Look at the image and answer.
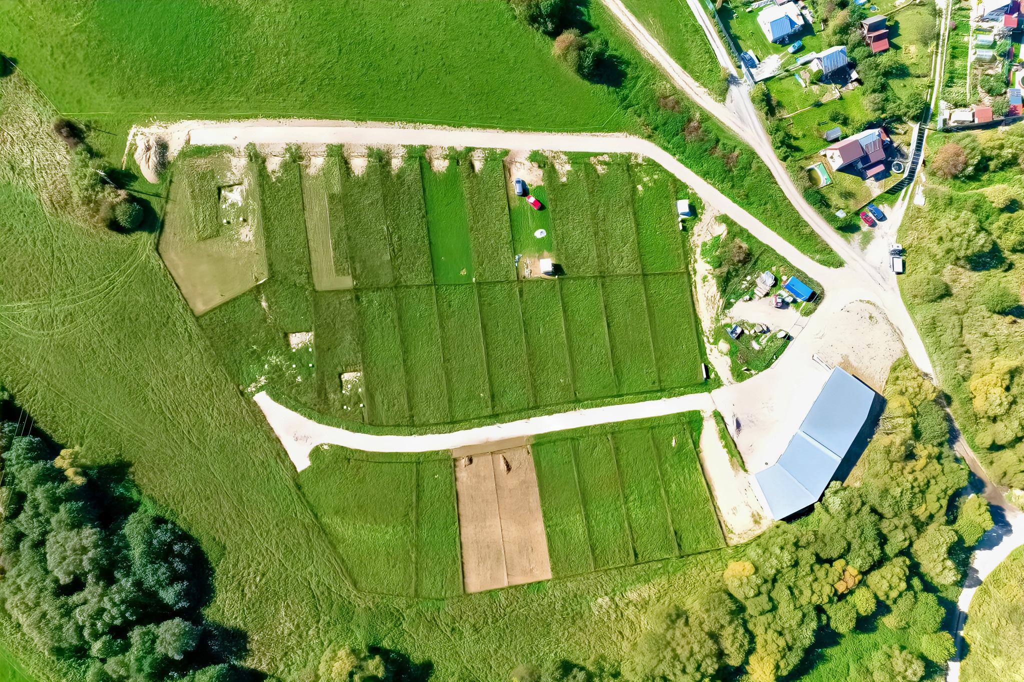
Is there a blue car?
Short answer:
Yes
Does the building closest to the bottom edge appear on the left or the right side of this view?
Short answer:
right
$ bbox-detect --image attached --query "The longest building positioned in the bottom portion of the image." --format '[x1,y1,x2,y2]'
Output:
[749,366,875,520]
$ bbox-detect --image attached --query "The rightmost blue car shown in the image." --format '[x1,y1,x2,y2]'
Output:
[867,203,884,221]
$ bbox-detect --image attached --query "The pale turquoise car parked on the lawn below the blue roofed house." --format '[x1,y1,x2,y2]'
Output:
[786,39,803,55]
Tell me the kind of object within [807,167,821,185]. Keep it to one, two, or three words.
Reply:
swimming pool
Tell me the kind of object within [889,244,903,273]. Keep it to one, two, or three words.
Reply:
vehicle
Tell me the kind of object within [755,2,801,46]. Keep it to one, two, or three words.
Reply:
house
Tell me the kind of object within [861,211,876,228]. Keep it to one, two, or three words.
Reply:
car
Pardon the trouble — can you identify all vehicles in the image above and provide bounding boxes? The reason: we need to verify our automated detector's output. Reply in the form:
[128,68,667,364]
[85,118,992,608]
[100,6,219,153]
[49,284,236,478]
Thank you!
[867,203,884,221]
[741,51,756,69]
[861,211,876,228]
[772,296,783,309]
[786,39,803,55]
[514,178,523,197]
[889,244,903,273]
[527,195,542,210]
